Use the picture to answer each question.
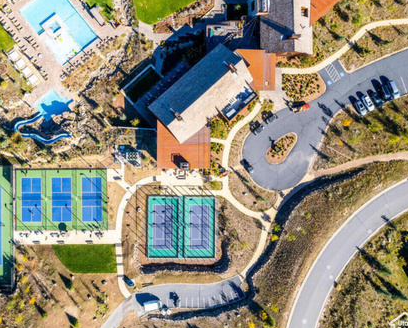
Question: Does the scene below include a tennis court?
Yes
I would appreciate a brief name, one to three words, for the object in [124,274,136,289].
vehicle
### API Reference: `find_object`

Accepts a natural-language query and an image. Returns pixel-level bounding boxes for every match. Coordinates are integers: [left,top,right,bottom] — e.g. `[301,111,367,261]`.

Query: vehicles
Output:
[386,79,401,96]
[379,84,392,101]
[371,90,382,106]
[252,121,267,134]
[144,298,162,311]
[362,94,374,111]
[264,112,279,124]
[166,306,172,316]
[124,274,136,289]
[354,99,366,116]
[292,102,312,112]
[161,307,167,316]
